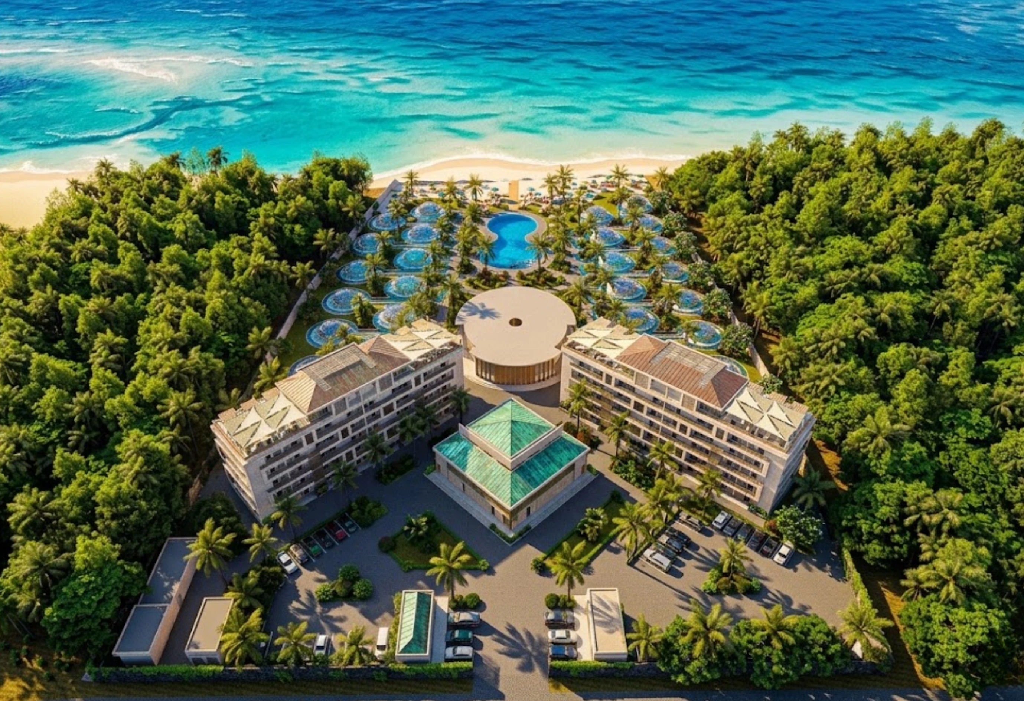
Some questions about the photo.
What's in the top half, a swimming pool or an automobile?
swimming pool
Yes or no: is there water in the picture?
Yes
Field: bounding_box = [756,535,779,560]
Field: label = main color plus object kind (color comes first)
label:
black car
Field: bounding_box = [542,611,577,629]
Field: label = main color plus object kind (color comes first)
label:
gray car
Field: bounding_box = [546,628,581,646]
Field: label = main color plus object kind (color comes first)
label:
white car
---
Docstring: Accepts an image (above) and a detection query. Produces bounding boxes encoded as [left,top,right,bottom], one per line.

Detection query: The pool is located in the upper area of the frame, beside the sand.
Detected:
[480,212,544,270]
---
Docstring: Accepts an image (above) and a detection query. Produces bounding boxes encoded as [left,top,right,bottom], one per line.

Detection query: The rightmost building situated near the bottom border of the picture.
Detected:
[588,587,627,666]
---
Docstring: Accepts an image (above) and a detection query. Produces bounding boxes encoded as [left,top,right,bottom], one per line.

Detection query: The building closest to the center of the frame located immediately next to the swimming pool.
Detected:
[454,290,576,392]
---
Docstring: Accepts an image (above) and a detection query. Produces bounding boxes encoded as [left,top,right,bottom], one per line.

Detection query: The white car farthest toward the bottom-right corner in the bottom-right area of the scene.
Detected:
[772,542,795,567]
